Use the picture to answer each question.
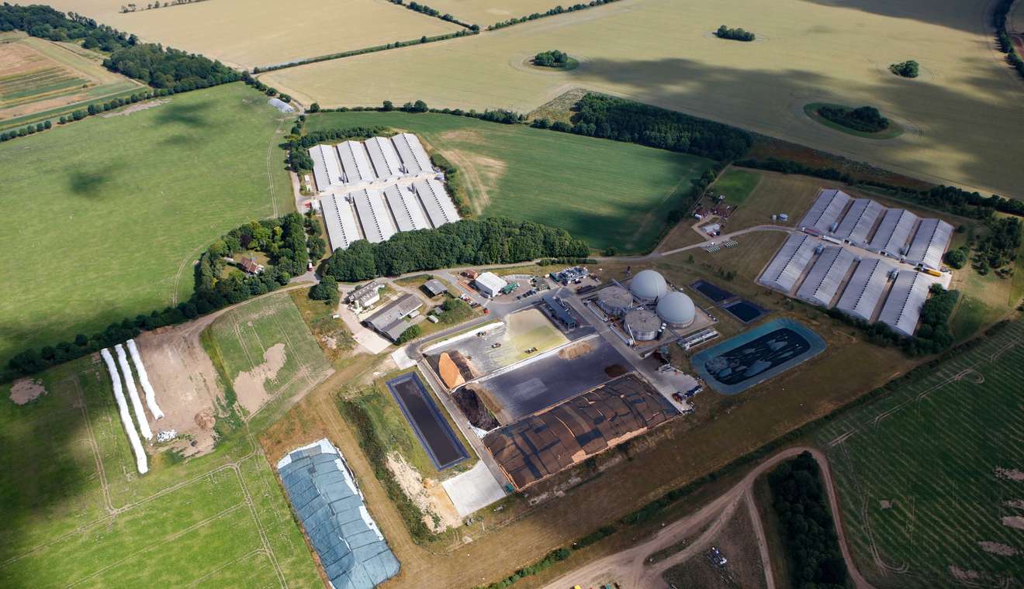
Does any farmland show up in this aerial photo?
Yes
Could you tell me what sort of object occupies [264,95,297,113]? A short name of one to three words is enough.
greenhouse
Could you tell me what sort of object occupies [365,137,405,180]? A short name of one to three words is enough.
shed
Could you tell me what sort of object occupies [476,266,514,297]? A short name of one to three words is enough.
building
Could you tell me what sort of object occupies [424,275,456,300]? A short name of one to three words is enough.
barn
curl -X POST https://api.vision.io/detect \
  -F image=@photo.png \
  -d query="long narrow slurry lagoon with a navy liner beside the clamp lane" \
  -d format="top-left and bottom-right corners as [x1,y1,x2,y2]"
[380,369,477,477]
